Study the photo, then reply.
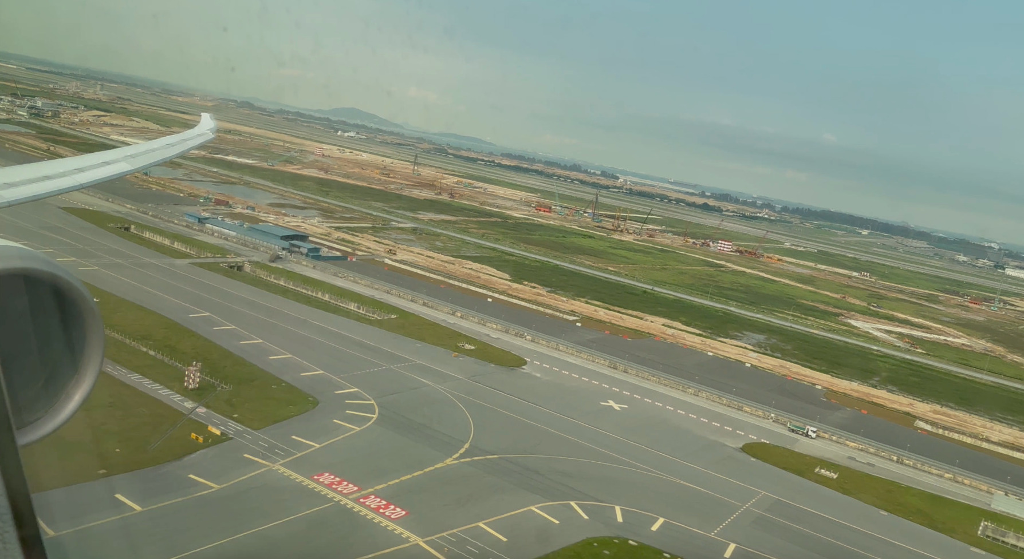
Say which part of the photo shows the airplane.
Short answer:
left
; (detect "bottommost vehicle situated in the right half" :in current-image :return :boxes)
[789,423,819,441]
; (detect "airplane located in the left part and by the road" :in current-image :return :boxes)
[0,113,216,559]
